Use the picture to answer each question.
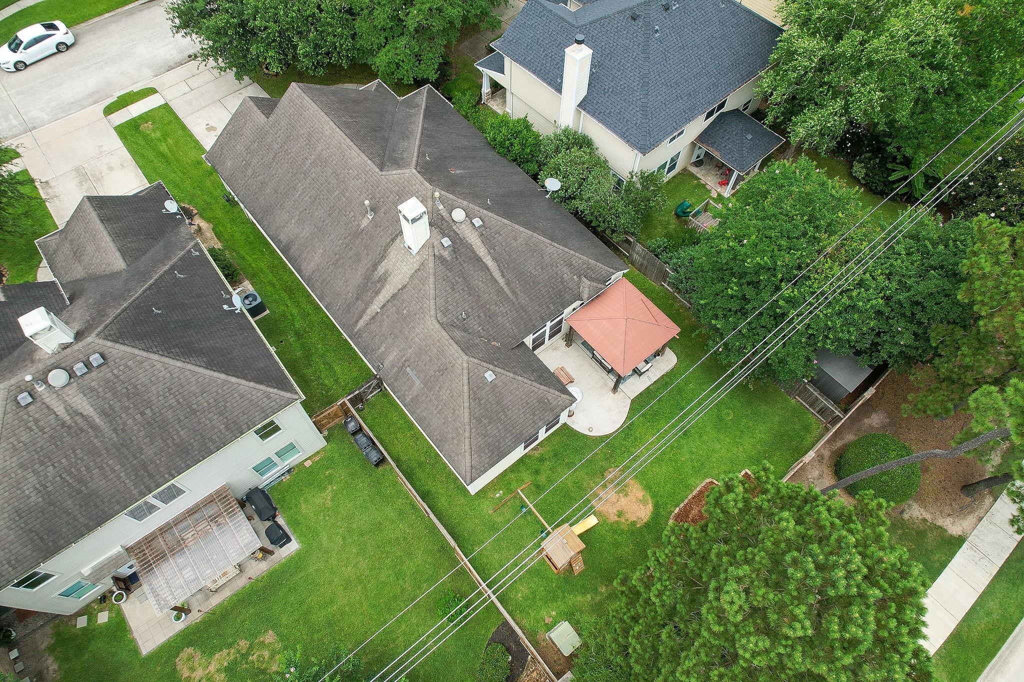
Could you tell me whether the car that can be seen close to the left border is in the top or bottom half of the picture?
top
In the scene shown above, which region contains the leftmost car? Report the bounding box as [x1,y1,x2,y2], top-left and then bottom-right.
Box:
[0,17,72,67]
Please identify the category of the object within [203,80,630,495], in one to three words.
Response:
house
